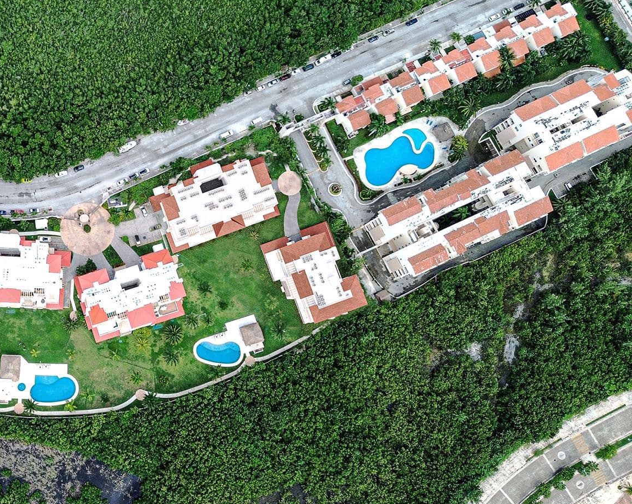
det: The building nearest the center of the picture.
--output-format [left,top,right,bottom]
[257,221,368,323]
